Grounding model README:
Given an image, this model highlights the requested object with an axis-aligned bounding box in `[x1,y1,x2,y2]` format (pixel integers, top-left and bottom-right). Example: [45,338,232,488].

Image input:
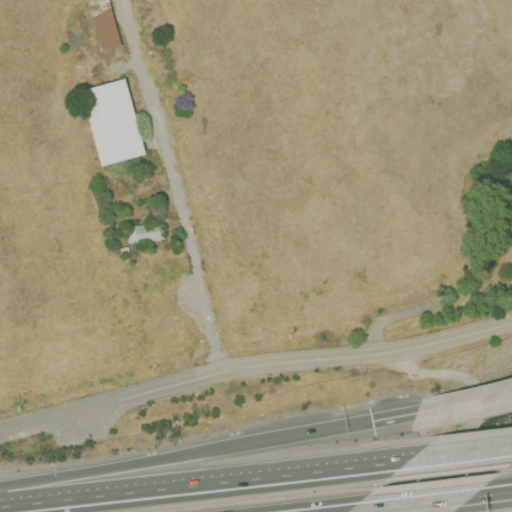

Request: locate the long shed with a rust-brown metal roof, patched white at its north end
[89,0,122,50]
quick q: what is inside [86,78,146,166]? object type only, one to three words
barn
